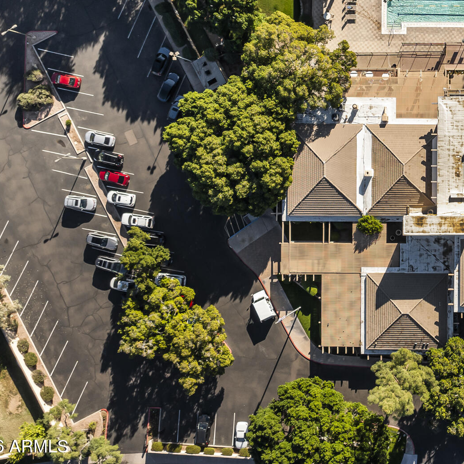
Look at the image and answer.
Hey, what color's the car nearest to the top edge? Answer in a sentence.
The car nearest to the top edge is black.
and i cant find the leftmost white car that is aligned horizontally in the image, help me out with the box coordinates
[64,194,98,212]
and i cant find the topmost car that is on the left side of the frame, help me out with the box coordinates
[148,46,173,77]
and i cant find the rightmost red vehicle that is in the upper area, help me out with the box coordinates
[99,170,132,187]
